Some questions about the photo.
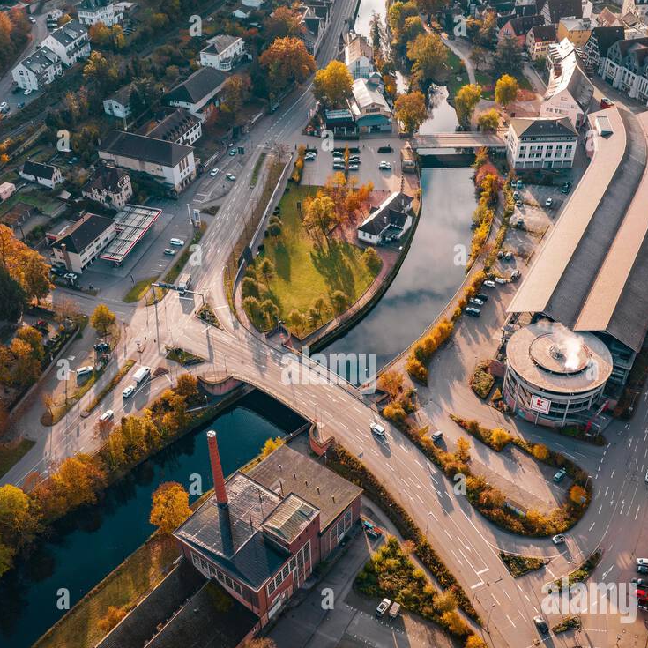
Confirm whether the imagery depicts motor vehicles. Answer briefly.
Yes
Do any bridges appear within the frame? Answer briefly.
Yes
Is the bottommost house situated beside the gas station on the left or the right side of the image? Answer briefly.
left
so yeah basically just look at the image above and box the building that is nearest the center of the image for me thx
[339,192,424,255]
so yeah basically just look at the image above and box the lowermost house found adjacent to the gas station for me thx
[38,212,129,283]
